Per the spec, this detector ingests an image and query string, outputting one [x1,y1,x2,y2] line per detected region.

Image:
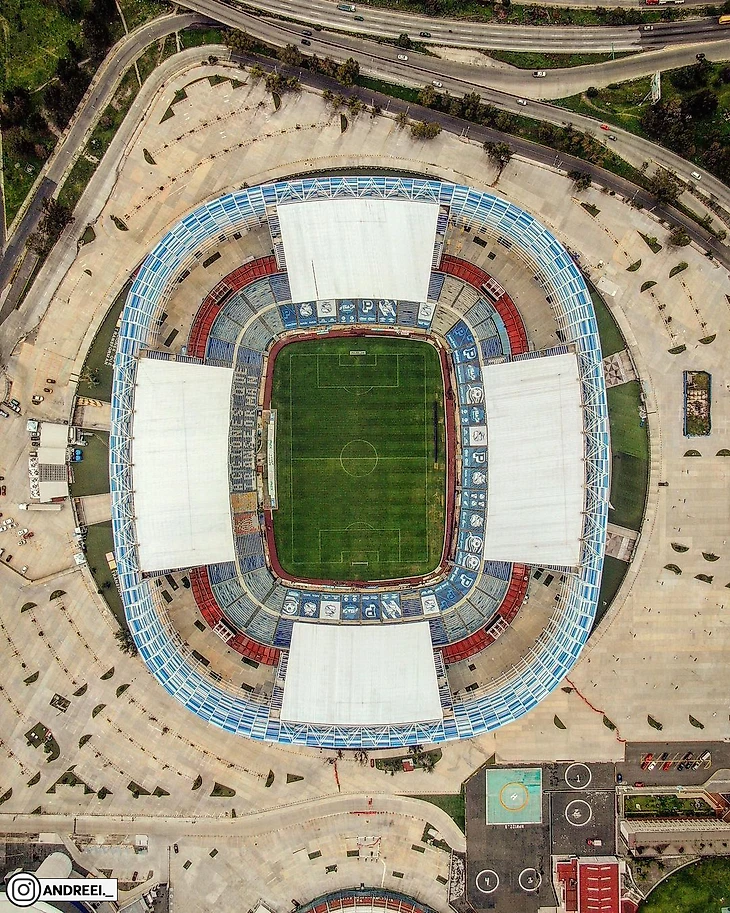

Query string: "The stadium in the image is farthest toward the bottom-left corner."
[292,878,430,913]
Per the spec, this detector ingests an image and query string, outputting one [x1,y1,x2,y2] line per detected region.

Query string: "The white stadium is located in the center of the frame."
[109,177,610,749]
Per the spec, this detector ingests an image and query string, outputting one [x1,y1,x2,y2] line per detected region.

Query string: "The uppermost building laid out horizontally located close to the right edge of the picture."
[620,812,730,858]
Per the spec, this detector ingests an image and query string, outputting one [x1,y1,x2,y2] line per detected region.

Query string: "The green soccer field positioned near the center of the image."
[263,329,456,588]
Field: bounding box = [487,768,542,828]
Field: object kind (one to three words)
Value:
helipad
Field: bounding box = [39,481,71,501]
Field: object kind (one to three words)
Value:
shed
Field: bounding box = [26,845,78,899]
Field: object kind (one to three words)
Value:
building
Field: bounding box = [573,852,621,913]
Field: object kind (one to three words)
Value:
building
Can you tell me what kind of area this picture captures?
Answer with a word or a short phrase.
sports ground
